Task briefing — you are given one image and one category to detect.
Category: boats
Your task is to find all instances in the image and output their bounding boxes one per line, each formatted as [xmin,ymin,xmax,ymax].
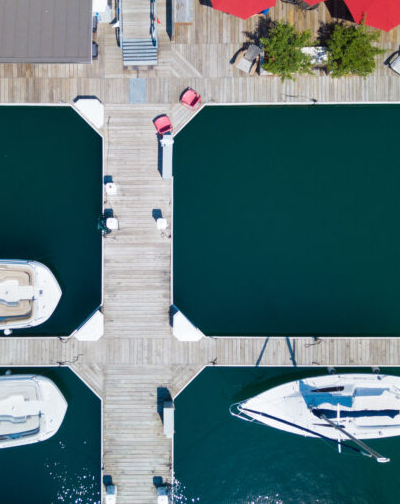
[229,373,400,463]
[0,258,62,330]
[0,372,67,446]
